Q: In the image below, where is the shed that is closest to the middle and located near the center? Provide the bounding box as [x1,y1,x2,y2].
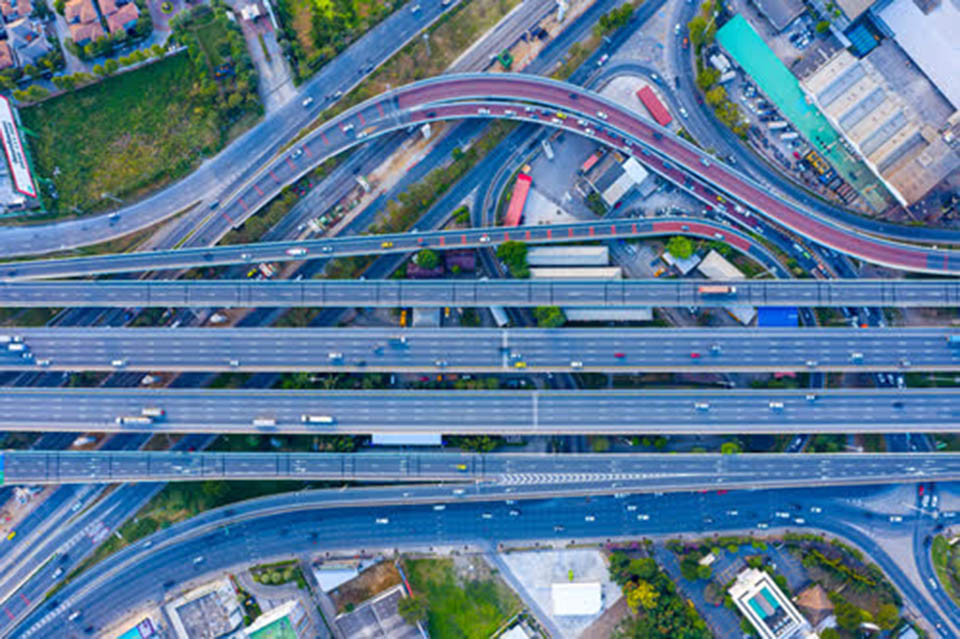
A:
[482,306,516,327]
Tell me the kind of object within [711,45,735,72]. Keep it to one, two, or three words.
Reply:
truck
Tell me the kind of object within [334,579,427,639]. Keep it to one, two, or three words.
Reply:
building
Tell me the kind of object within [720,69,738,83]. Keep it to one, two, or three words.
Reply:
vehicle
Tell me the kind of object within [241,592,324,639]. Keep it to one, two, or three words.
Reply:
house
